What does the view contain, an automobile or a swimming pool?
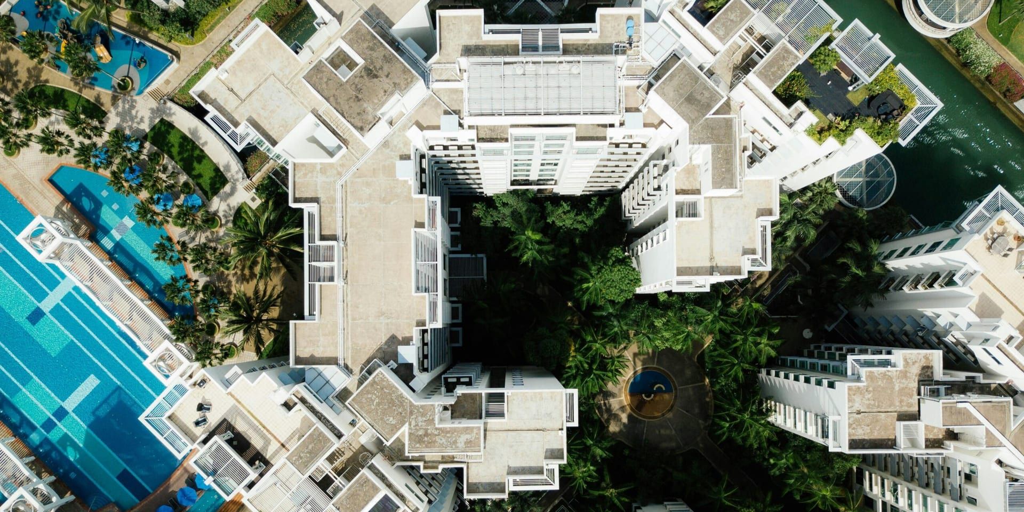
swimming pool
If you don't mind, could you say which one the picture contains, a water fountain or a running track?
water fountain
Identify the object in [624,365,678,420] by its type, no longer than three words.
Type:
fountain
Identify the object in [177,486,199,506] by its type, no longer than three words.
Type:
umbrella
